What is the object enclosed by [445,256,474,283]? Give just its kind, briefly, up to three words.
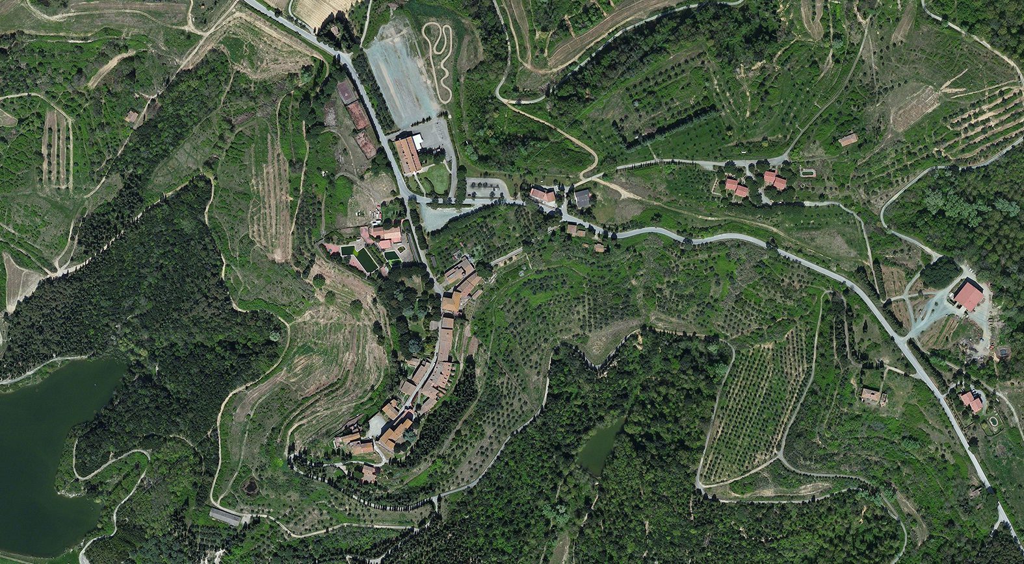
house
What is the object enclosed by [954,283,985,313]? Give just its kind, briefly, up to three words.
barn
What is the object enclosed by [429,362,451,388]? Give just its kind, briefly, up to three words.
house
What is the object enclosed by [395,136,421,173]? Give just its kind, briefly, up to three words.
building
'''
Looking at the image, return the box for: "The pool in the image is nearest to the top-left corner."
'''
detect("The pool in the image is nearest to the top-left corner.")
[340,245,379,273]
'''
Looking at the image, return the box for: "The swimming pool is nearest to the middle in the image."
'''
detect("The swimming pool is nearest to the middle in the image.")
[383,250,402,267]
